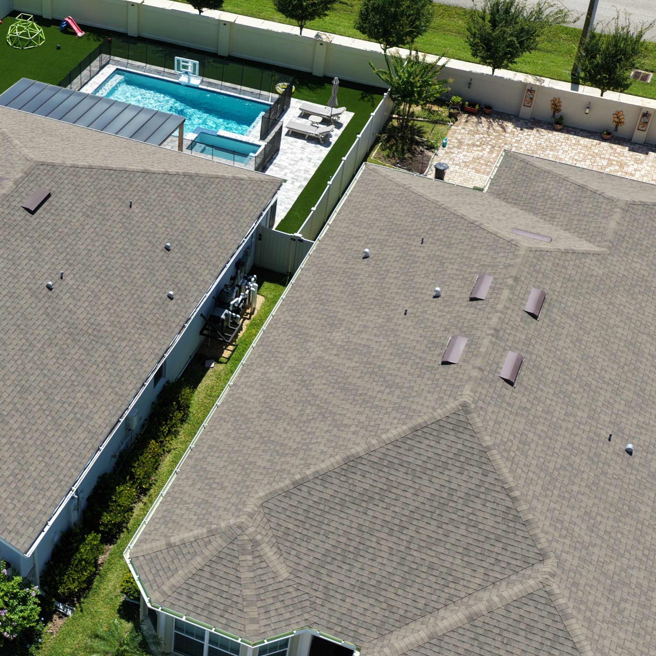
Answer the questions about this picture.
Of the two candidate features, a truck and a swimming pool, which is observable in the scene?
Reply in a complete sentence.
This aerial view contains a swimming pool.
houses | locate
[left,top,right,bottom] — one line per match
[0,110,286,626]
[124,150,656,656]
